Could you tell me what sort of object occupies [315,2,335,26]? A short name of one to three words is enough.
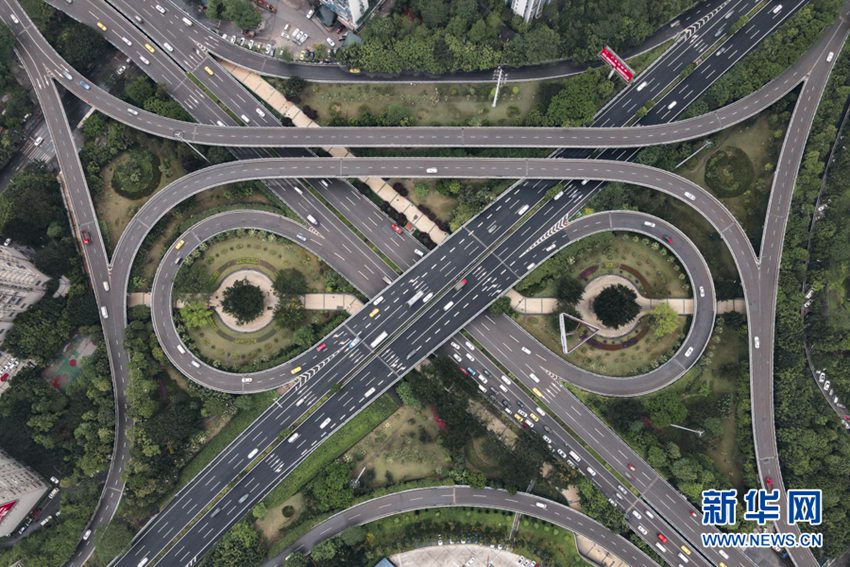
building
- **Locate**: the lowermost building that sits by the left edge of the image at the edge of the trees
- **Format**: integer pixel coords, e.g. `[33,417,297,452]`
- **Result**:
[0,455,47,548]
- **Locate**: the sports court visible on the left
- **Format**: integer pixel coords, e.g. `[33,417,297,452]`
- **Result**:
[43,335,95,392]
